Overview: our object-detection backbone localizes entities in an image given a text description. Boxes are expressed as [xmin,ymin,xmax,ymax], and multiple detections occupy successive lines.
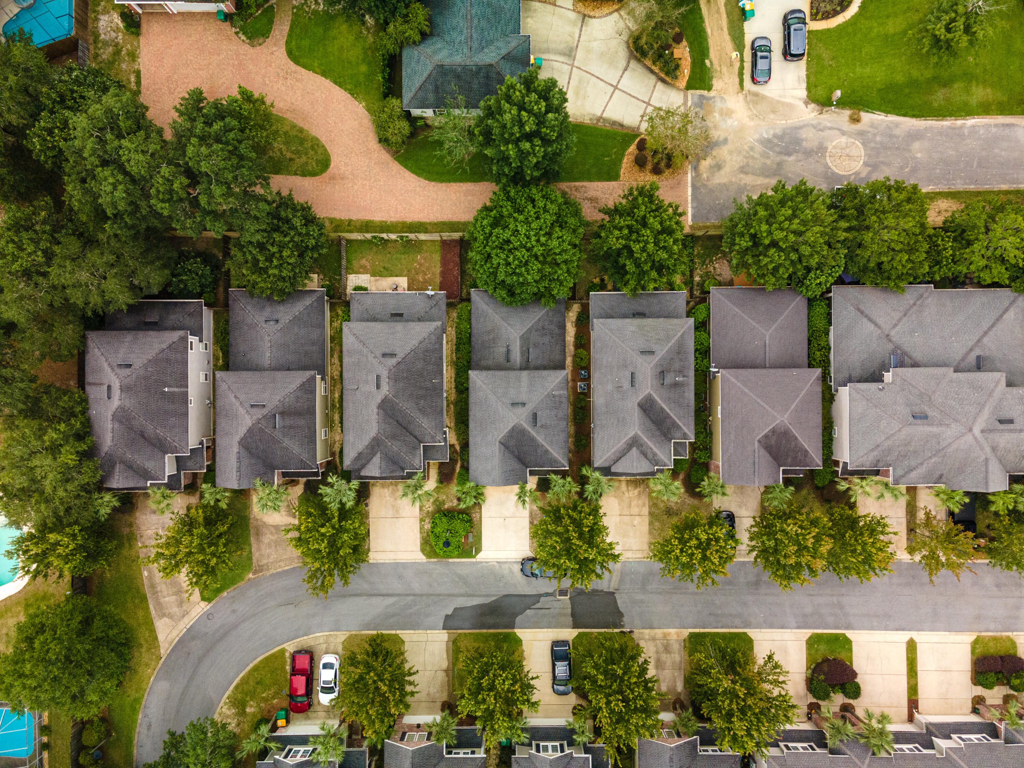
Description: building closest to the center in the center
[468,289,569,486]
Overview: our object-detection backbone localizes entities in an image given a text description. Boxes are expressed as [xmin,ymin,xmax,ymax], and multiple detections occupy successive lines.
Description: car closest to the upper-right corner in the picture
[782,9,810,63]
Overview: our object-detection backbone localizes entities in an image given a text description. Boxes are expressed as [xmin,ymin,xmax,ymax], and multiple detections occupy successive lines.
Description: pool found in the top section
[6,0,73,43]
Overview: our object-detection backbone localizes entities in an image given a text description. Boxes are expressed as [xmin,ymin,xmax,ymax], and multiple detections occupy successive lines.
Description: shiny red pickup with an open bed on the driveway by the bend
[287,649,314,713]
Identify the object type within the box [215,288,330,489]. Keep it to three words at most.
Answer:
house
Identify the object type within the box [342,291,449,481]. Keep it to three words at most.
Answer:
house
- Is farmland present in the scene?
No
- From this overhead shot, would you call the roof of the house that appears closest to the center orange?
No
